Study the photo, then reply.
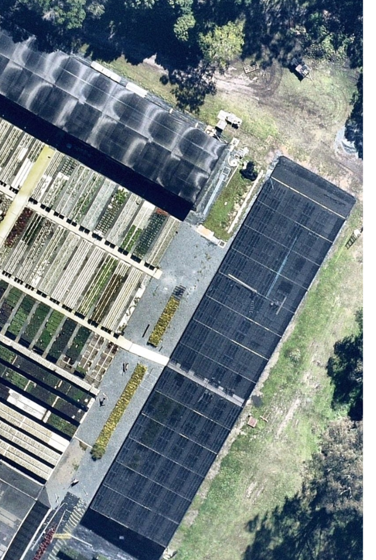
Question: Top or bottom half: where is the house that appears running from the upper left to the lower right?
top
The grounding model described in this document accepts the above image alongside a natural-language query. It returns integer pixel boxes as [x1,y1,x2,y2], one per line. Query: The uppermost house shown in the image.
[0,18,228,215]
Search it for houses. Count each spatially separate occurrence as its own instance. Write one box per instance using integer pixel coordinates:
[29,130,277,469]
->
[0,18,228,215]
[0,460,50,560]
[89,165,352,551]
